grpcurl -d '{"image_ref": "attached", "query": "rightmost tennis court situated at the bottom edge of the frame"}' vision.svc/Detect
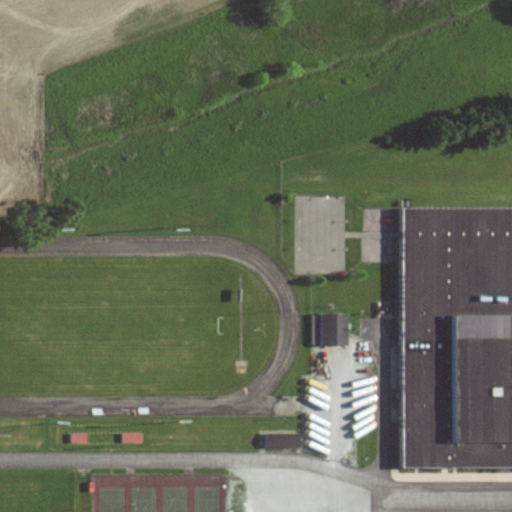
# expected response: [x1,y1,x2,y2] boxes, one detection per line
[190,475,226,512]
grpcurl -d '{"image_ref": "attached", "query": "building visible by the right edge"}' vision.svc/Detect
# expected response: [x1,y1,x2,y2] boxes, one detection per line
[399,208,512,468]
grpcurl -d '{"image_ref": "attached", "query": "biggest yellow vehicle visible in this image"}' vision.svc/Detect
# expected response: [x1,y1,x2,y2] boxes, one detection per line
[303,378,329,392]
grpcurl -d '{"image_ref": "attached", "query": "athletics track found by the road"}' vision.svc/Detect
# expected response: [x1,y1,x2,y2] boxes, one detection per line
[0,236,300,416]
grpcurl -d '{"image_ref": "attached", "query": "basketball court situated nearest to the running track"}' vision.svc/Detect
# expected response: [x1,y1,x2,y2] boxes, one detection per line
[294,195,346,273]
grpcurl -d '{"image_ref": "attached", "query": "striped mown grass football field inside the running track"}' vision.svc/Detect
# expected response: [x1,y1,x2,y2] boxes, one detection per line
[0,256,280,397]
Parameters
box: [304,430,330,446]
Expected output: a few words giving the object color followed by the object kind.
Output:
white vehicle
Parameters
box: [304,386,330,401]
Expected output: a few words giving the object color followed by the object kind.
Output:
white vehicle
